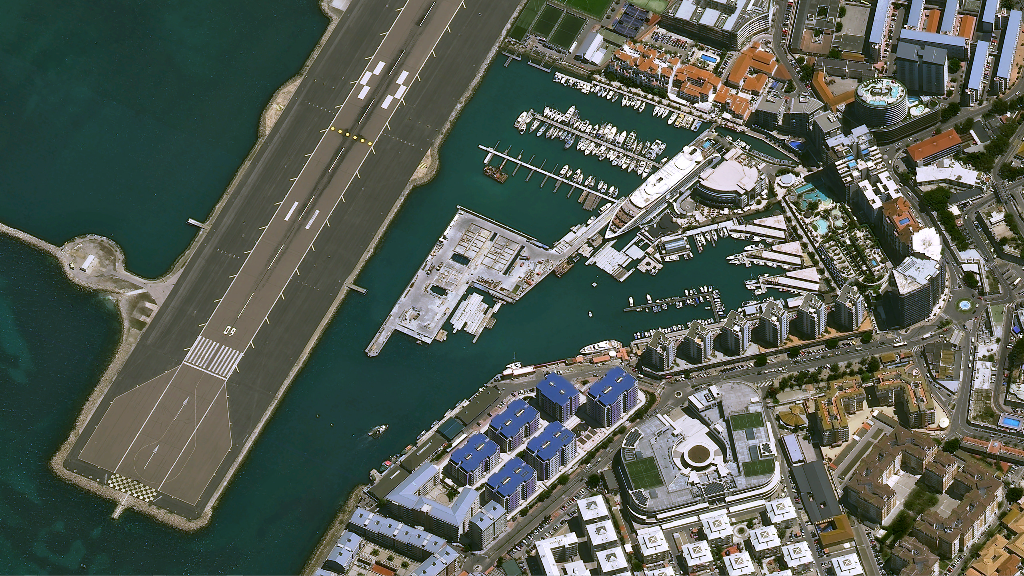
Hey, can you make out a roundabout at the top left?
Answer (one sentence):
No, I see no roundabout at the top left.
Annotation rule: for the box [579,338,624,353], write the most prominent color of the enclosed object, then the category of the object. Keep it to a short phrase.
white boat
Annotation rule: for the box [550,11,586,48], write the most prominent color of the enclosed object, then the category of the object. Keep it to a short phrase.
green soccer field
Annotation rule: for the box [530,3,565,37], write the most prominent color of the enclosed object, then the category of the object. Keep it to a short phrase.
green soccer field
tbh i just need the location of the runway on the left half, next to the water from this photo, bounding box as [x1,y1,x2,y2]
[78,0,462,505]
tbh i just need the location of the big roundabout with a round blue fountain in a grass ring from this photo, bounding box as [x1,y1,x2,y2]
[942,287,988,323]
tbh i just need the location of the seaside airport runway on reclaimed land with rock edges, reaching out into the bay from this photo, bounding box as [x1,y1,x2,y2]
[0,0,527,532]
